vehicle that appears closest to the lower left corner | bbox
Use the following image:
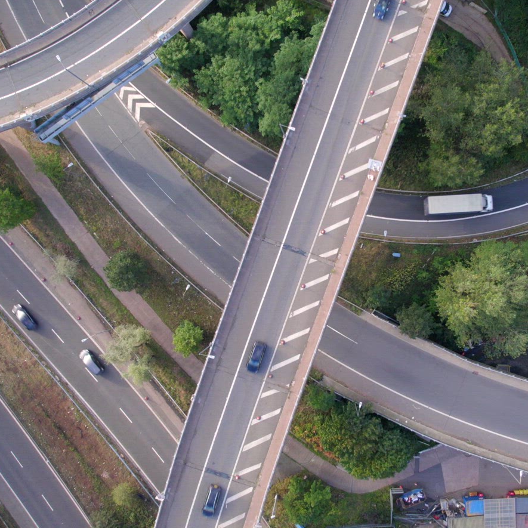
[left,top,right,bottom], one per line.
[78,347,106,376]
